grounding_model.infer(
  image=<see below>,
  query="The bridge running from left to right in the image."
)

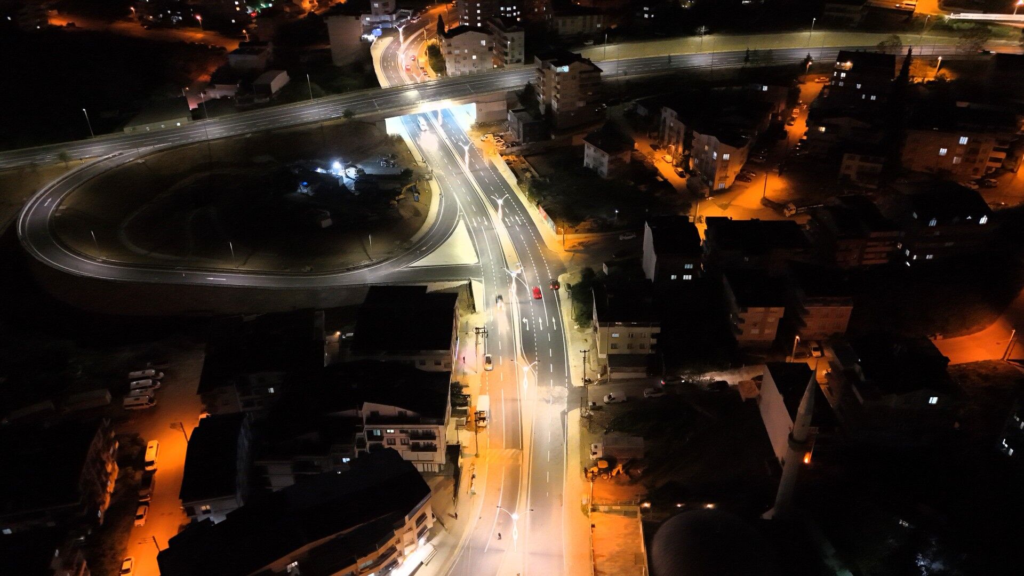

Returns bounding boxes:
[374,90,514,130]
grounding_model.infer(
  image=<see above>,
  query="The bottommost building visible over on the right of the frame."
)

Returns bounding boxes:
[642,508,808,576]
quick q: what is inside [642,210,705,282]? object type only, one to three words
house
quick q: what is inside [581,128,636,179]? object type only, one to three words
house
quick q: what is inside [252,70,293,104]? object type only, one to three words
shed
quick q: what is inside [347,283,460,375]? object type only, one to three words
building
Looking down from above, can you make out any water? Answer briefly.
No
